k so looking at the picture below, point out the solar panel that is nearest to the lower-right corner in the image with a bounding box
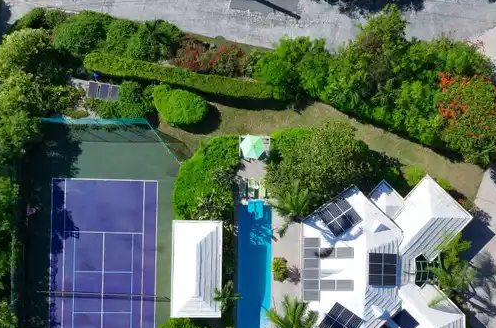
[392,309,419,328]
